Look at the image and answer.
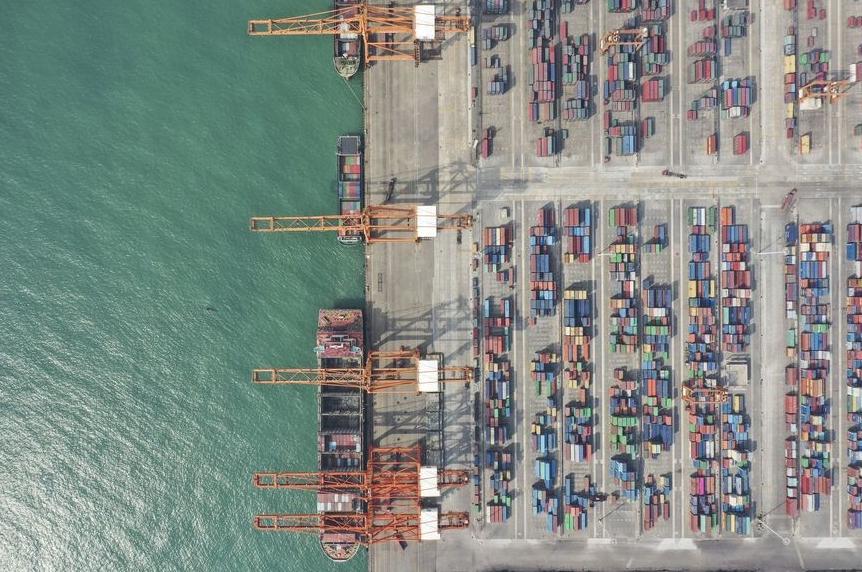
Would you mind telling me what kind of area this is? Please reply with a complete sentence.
This looks like a port.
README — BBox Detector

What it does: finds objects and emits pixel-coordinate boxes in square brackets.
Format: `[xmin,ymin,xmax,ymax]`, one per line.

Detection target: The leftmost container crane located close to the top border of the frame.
[248,0,471,70]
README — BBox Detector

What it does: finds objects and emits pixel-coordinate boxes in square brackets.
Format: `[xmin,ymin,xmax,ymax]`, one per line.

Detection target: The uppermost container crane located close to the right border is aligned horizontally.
[798,74,859,103]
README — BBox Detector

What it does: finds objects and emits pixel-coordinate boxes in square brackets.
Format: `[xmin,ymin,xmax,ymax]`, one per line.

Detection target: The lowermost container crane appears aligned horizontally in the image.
[253,480,475,543]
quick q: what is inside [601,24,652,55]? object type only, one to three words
container crane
